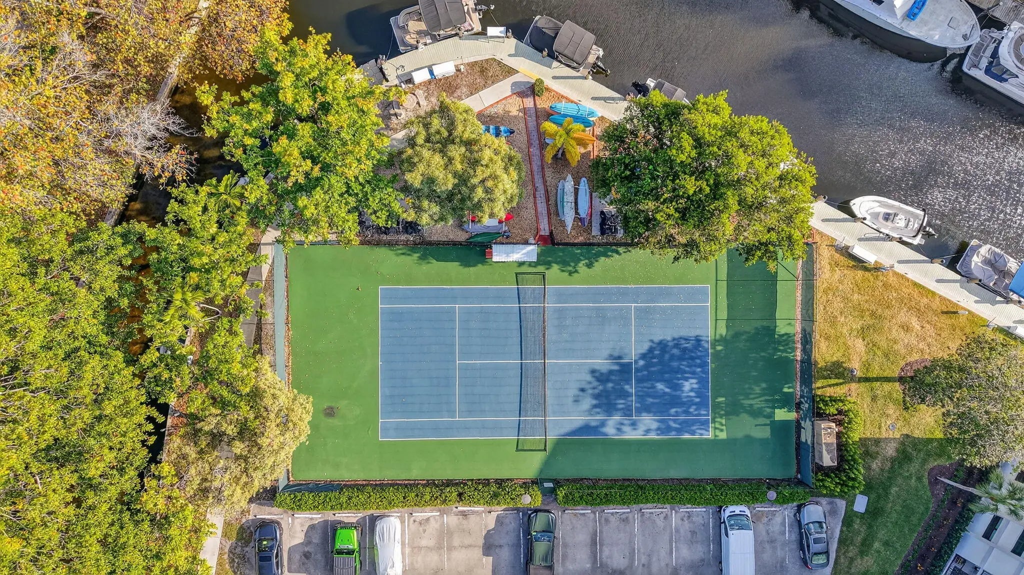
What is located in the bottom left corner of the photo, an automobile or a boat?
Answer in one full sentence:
Visible in the bottom left corner of the photo is an automobile.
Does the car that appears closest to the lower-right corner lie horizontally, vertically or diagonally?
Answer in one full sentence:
In this picture, the car that appears closest to the lower-right corner lies vertically.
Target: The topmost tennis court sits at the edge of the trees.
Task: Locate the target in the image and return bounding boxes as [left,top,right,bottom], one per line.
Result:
[288,244,796,479]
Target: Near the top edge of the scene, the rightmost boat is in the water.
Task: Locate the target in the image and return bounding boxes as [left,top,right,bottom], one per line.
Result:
[957,23,1024,109]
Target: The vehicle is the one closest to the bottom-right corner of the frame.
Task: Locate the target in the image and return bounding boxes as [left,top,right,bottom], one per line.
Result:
[799,504,835,574]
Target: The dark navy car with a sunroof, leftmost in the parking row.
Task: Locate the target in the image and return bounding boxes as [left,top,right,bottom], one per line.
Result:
[249,521,284,575]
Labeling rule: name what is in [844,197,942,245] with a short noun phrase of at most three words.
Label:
boat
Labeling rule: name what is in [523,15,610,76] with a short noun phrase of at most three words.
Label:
boat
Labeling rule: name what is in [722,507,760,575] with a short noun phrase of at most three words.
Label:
van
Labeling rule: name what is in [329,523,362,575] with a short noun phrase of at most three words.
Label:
car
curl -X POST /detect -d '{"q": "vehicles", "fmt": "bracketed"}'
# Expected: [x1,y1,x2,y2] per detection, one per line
[249,521,284,575]
[374,516,402,575]
[526,510,558,575]
[329,523,362,575]
[722,507,760,575]
[799,504,835,574]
